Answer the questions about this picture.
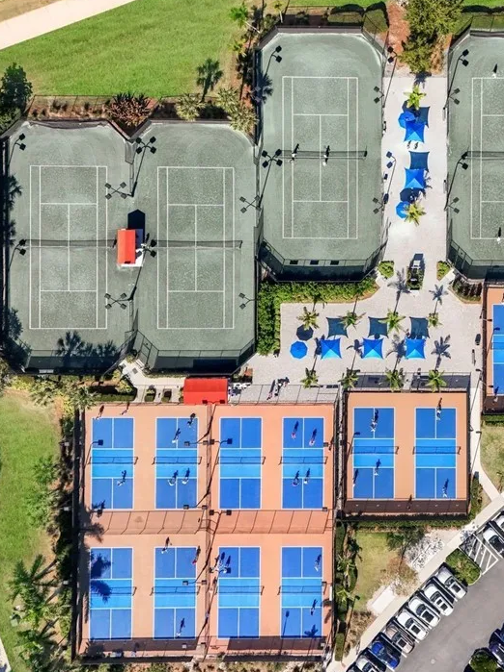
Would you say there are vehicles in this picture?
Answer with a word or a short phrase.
Yes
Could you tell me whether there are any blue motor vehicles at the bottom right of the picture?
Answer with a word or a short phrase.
Yes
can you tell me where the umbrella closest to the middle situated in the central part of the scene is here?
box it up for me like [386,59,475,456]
[289,340,308,358]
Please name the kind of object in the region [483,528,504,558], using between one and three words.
car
